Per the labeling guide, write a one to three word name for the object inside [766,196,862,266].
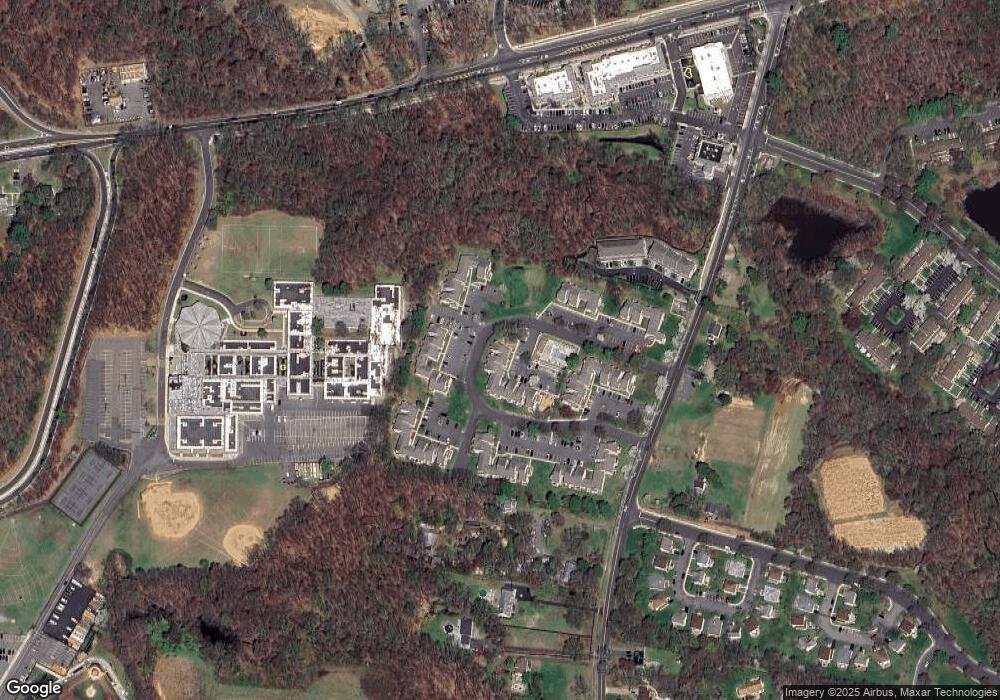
pond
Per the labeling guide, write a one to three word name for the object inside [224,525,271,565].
baseball field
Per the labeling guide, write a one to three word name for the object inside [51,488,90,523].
tennis court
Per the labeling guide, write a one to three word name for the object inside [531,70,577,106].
building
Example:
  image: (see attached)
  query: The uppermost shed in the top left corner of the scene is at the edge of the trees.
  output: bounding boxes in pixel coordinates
[120,62,146,83]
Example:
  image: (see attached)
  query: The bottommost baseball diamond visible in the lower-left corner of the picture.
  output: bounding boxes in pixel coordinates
[61,659,127,700]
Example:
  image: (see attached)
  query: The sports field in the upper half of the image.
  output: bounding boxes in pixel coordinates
[203,210,320,286]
